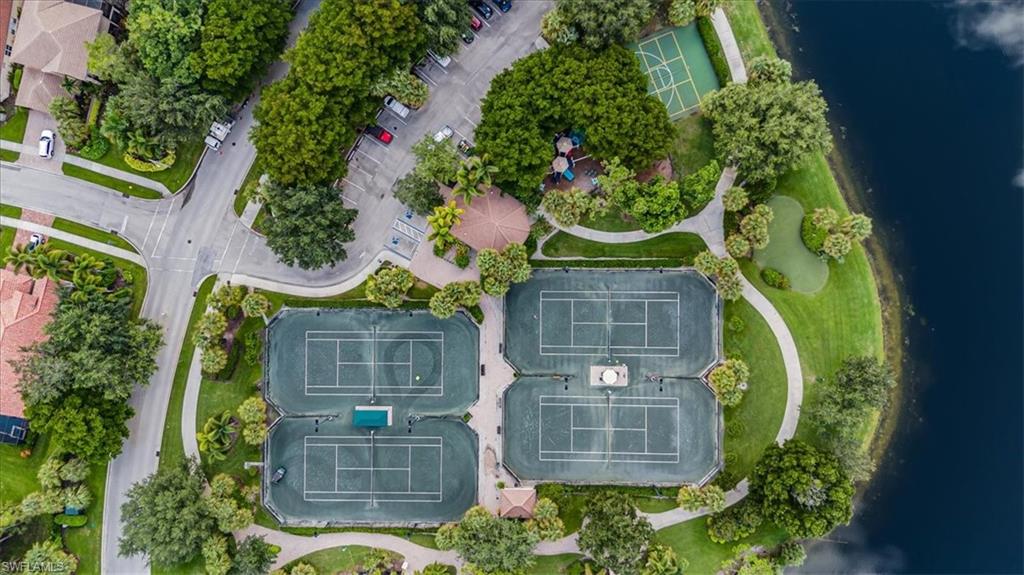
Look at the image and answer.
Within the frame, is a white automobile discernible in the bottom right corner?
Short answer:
No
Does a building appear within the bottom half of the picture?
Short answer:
Yes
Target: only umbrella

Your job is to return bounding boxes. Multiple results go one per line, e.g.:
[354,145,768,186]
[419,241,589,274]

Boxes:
[602,369,617,383]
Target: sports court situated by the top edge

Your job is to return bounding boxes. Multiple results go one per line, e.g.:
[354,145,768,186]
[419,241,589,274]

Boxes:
[624,22,719,122]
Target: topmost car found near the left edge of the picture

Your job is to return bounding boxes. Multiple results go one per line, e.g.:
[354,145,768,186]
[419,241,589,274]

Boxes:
[37,130,56,159]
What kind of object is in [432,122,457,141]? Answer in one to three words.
car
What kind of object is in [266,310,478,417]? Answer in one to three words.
tennis court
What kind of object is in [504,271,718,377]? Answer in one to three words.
tennis court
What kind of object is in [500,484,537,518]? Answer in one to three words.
building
